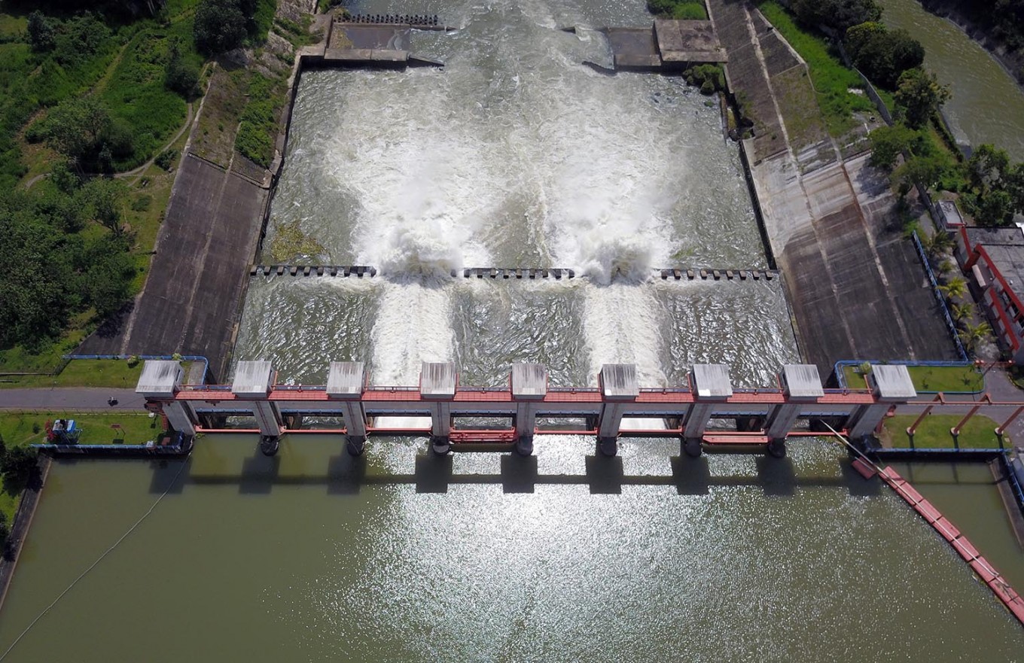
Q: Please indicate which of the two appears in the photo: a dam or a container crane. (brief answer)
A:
dam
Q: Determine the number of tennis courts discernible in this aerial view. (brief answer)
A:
0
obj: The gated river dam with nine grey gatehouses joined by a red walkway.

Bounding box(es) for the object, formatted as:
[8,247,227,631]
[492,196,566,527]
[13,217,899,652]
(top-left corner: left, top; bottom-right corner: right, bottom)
[46,357,992,459]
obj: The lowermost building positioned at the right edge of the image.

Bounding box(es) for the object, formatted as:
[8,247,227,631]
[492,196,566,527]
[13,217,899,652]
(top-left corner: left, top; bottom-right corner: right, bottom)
[958,225,1024,363]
